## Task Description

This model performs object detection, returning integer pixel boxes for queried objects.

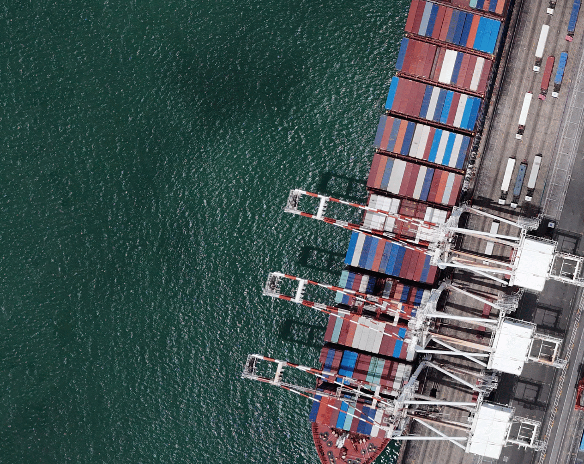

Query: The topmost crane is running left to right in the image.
[279,186,584,300]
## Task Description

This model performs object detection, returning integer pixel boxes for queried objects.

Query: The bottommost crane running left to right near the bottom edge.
[238,351,549,464]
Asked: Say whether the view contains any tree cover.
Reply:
No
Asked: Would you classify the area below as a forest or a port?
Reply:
port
